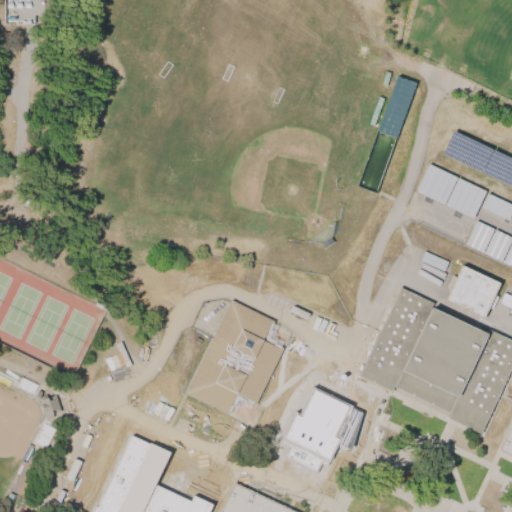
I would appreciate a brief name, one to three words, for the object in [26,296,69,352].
tennis court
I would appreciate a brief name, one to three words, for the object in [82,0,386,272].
sports field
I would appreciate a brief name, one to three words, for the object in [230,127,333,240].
baseball field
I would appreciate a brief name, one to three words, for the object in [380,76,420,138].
shed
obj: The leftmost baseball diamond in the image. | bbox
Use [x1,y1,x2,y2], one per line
[0,386,41,504]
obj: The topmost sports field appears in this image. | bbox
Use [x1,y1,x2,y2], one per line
[405,0,512,100]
